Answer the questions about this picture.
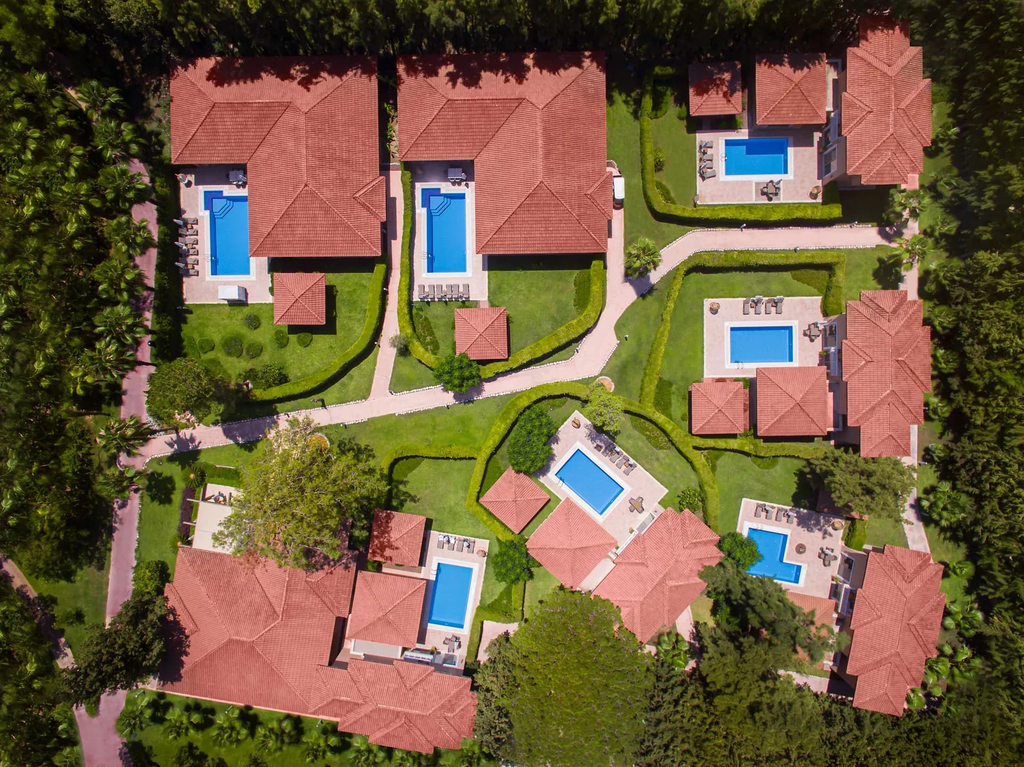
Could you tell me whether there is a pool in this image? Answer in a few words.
Yes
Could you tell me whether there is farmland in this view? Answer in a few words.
No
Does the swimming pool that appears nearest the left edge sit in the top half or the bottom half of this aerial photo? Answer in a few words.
top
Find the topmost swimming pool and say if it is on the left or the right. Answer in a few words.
right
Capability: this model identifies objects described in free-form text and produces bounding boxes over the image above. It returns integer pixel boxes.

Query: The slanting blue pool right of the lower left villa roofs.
[423,557,479,635]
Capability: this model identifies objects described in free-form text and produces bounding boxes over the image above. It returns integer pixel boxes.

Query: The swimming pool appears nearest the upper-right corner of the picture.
[720,132,794,180]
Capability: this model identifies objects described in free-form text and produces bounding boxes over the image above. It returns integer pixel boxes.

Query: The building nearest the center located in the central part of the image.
[454,307,508,360]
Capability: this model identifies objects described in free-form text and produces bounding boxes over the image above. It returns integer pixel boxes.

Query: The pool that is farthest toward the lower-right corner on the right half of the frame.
[740,522,808,590]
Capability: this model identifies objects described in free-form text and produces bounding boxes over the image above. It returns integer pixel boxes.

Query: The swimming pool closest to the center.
[549,442,631,522]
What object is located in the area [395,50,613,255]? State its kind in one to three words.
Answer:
house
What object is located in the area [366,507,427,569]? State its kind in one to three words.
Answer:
building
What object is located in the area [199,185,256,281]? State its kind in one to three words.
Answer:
swimming pool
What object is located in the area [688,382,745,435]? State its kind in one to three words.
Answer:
building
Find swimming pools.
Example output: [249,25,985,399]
[423,557,479,635]
[549,442,631,522]
[740,522,808,590]
[416,183,471,278]
[720,132,794,180]
[725,321,798,368]
[199,185,256,281]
